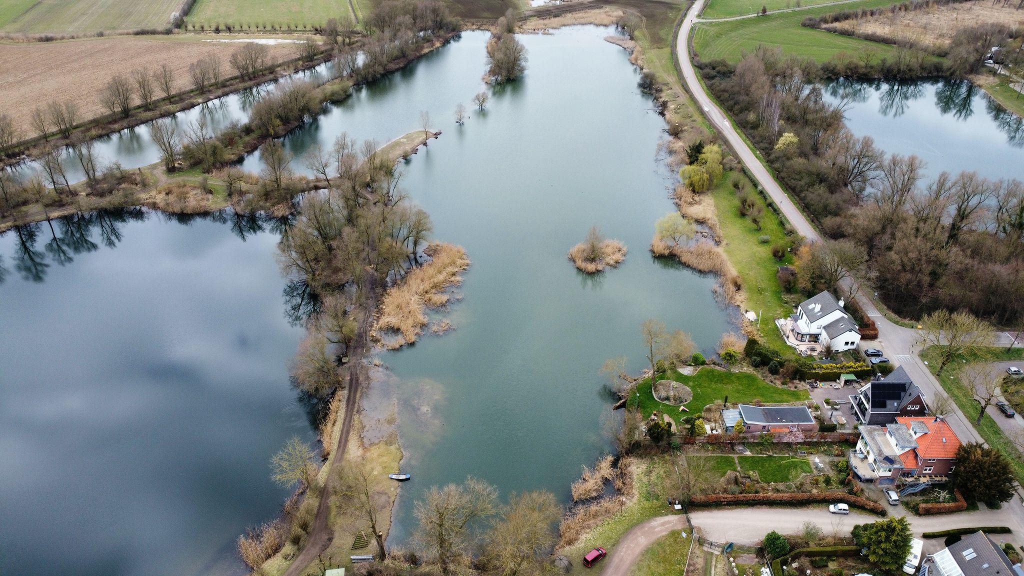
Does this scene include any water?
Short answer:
Yes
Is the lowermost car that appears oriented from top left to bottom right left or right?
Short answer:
right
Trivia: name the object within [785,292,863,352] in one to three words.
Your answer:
house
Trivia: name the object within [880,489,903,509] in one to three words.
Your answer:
car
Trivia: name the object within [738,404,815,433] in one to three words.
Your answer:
shed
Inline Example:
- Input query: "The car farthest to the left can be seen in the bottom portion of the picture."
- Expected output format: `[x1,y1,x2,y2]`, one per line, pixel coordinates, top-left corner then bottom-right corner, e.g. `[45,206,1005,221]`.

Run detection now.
[582,549,606,568]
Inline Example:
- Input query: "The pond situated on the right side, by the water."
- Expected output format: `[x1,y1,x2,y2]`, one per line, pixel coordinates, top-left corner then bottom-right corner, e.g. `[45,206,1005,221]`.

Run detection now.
[784,77,1024,218]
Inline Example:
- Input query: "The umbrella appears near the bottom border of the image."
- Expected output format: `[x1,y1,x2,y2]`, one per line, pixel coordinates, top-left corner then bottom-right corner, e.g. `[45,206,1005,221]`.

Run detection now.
[553,557,571,571]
